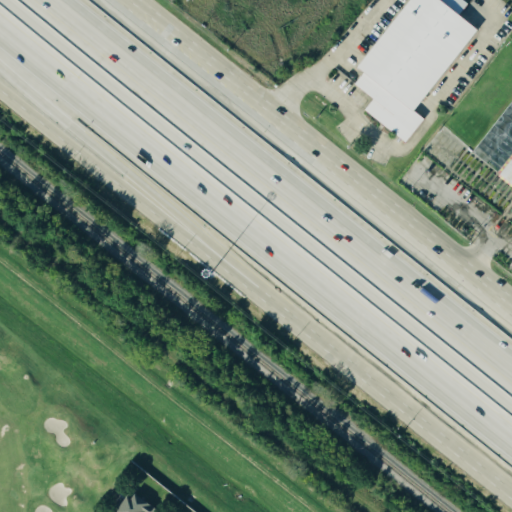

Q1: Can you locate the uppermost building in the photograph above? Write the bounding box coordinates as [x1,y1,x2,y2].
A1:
[356,0,479,142]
